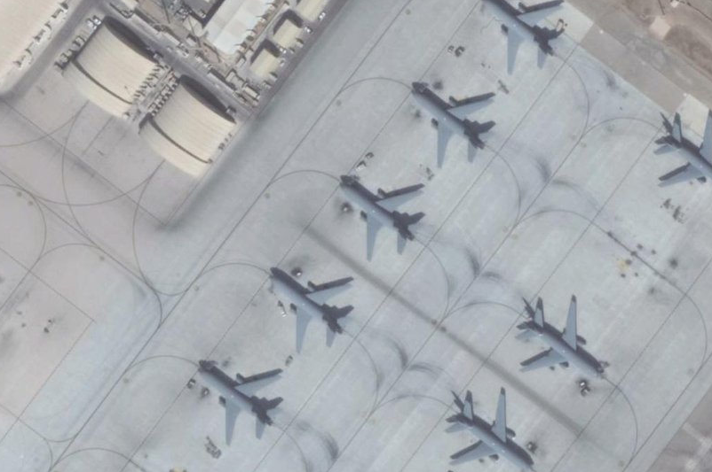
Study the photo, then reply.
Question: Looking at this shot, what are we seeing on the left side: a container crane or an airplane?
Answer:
airplane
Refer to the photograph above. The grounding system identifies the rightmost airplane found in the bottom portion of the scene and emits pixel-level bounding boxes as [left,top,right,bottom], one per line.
[516,296,603,376]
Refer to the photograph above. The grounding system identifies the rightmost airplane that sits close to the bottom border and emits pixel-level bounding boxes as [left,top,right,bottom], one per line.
[445,391,532,472]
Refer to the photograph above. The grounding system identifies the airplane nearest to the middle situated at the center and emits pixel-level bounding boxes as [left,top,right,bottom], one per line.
[341,183,424,264]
